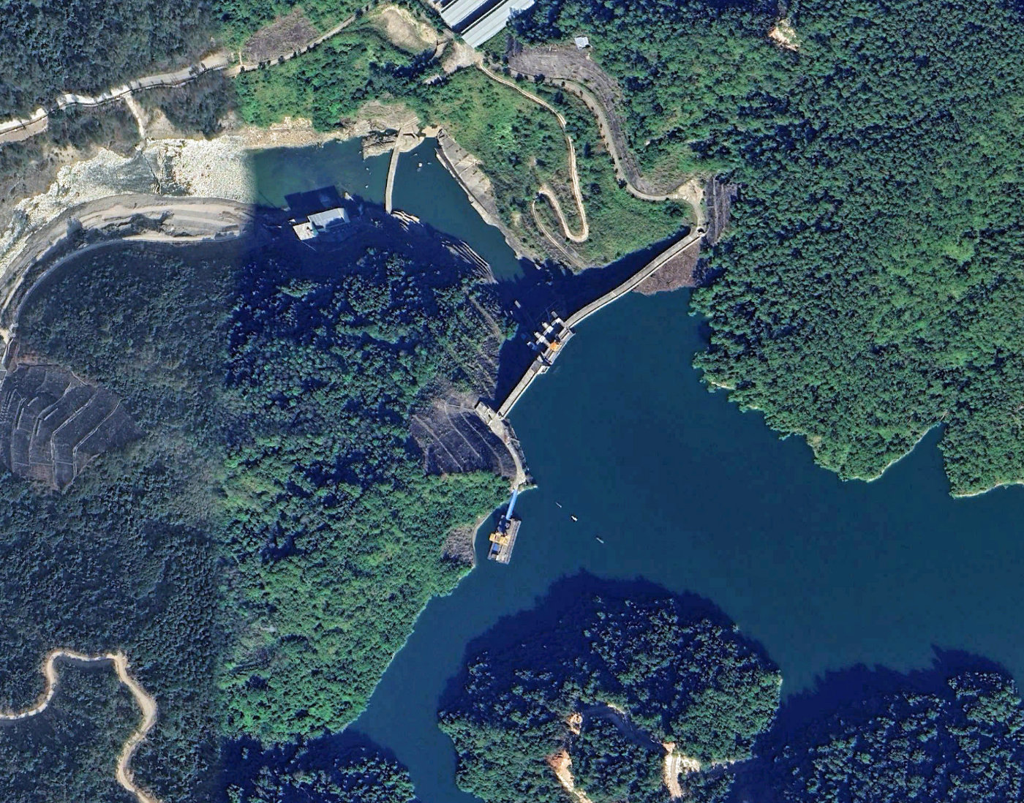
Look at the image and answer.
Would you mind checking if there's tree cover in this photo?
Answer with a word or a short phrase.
Yes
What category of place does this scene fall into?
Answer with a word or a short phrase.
port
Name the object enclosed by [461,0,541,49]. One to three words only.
shed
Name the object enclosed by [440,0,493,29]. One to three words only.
shed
